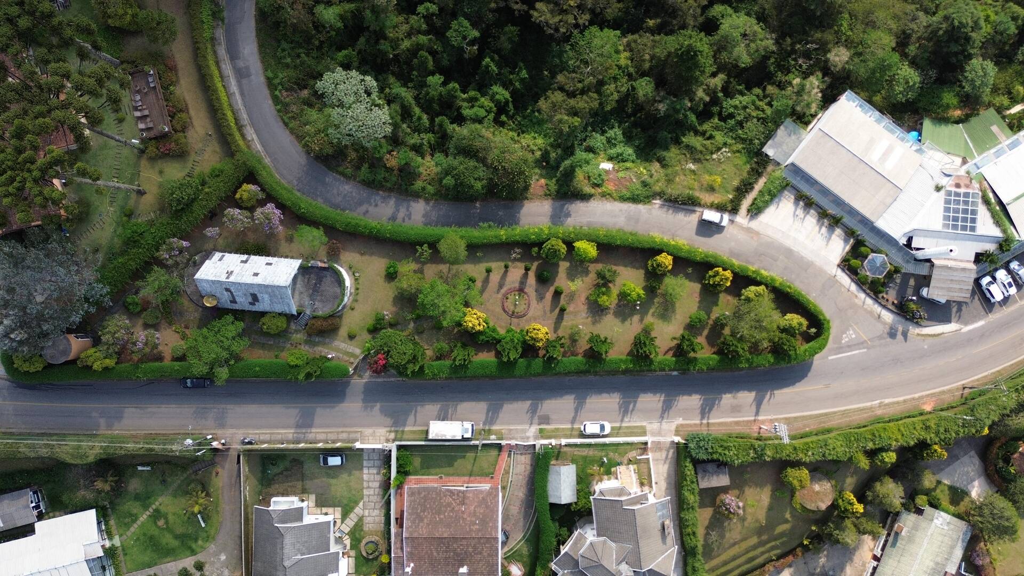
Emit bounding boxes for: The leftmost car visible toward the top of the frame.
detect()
[699,211,727,226]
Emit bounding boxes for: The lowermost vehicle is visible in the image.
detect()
[499,522,512,547]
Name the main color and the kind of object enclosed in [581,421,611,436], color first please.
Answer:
white car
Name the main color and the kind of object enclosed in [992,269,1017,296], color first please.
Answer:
white car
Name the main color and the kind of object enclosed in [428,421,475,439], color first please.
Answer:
white vehicle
